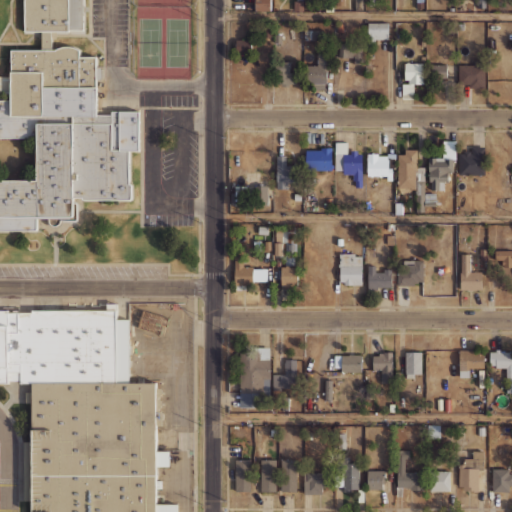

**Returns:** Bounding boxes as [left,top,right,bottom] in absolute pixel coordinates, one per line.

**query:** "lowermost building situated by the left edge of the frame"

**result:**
[0,304,178,512]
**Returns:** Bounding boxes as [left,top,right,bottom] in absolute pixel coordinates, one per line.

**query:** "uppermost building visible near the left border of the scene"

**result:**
[0,0,140,231]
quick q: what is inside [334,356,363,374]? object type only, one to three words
house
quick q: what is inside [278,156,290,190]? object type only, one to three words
house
